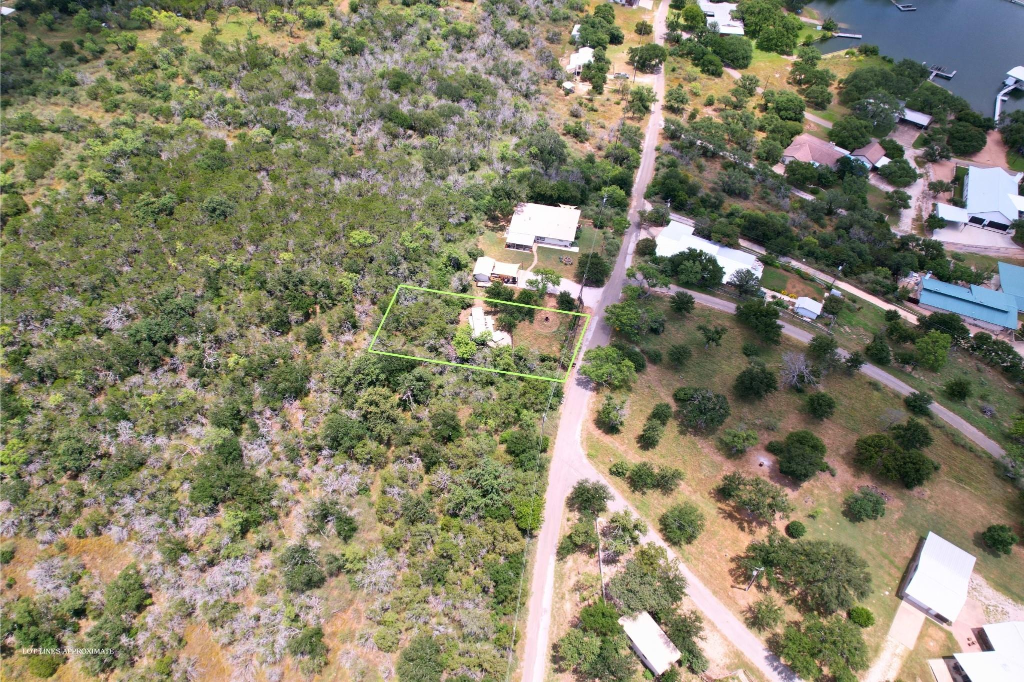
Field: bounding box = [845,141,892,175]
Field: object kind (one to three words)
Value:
building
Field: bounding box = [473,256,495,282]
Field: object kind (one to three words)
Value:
shed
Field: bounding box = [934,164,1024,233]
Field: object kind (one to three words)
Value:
house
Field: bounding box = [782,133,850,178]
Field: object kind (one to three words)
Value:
house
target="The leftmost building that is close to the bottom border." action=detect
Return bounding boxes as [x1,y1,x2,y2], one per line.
[622,609,683,678]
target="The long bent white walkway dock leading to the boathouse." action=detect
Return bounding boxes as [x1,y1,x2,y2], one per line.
[991,84,1018,127]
